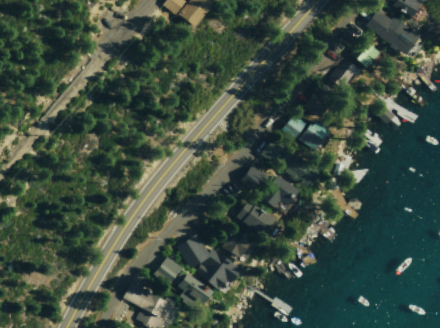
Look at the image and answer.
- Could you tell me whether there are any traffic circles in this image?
No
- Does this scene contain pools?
No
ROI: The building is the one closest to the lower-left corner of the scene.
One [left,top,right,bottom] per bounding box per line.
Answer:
[122,284,176,328]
